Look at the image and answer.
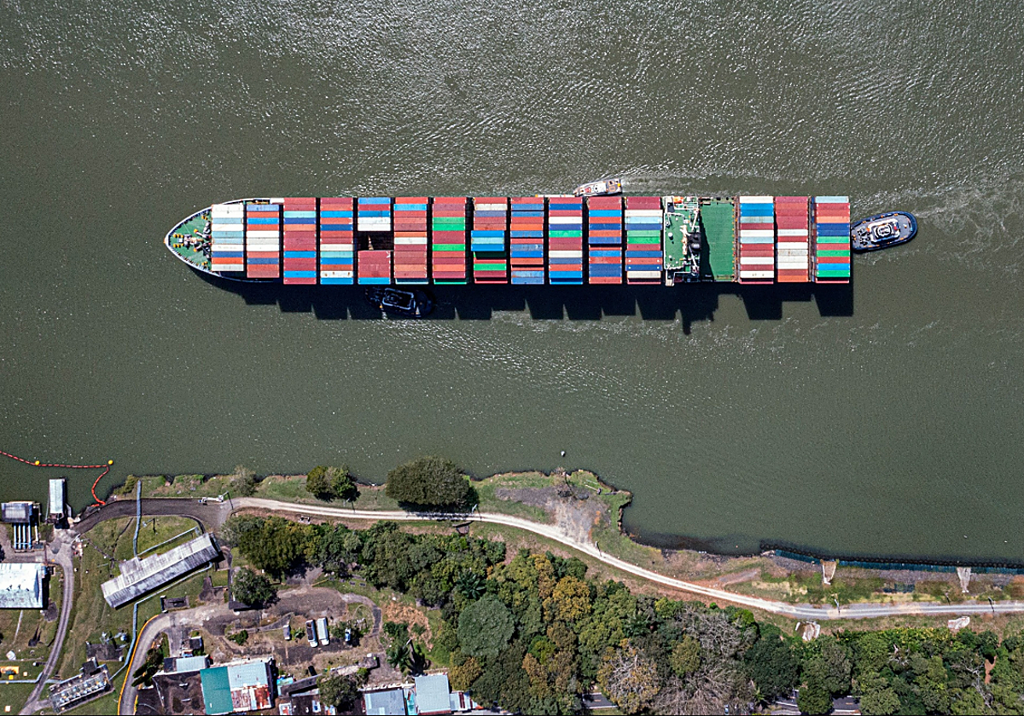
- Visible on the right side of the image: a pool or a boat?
boat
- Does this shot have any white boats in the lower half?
No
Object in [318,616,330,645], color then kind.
white vehicle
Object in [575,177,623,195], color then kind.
white boat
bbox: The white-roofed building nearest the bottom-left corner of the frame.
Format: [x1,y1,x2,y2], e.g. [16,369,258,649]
[0,560,55,608]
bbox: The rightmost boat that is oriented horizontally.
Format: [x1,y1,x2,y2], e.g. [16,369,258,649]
[850,210,921,252]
